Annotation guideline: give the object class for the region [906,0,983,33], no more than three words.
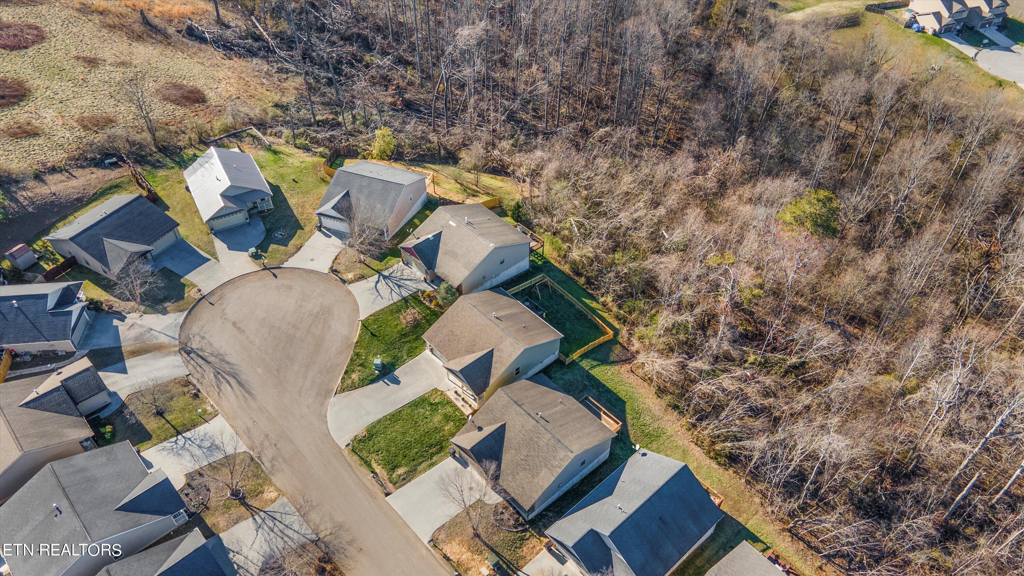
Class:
house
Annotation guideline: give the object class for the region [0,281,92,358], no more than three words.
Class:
house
